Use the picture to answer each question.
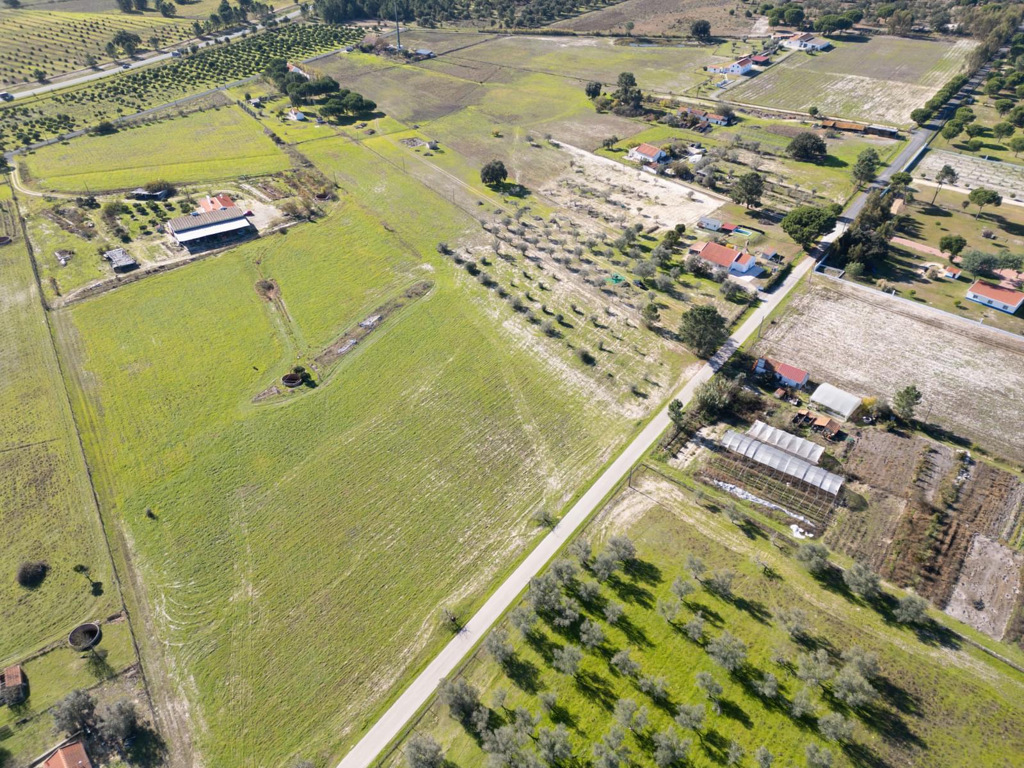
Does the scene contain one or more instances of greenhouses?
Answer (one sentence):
Yes, there's a greenhouse here.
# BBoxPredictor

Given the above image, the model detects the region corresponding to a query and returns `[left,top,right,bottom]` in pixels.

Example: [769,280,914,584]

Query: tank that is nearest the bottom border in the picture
[66,622,103,651]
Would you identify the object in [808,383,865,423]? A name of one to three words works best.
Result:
greenhouse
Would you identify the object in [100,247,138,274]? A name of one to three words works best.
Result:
shed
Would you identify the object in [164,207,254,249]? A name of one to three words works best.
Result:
barn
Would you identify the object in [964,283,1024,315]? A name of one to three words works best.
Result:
house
